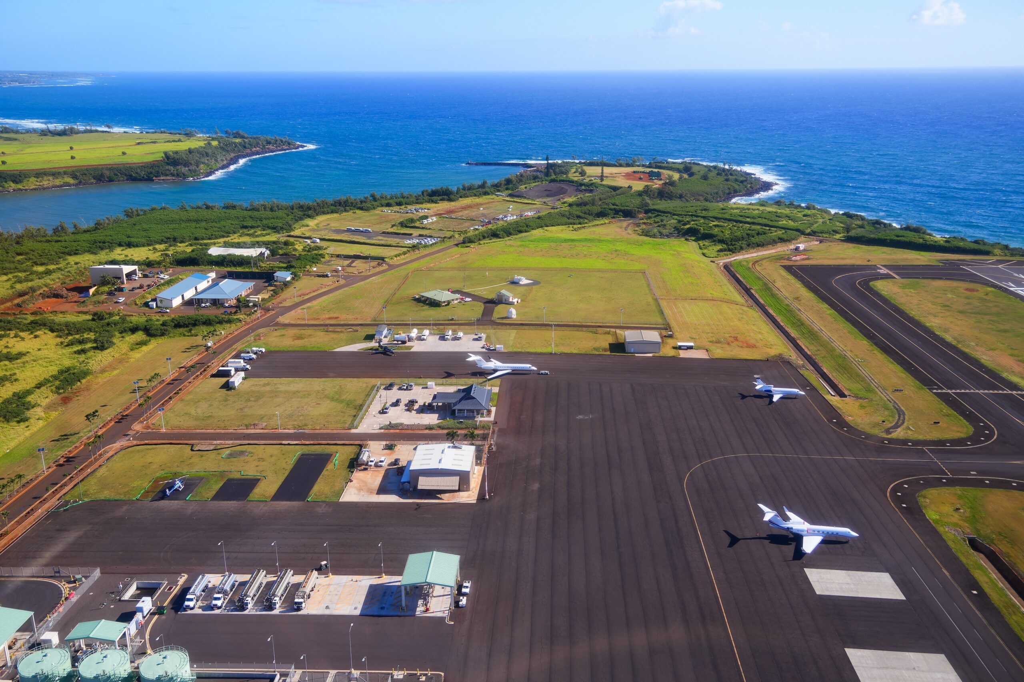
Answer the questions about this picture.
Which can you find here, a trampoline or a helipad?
helipad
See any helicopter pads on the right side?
No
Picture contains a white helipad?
No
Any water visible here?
Yes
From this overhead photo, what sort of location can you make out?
airport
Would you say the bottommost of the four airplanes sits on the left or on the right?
right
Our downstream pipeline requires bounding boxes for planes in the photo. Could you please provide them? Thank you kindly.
[372,340,396,355]
[464,354,537,378]
[757,379,805,400]
[764,505,859,550]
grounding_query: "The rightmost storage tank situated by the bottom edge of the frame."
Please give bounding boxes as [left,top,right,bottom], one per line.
[137,647,195,682]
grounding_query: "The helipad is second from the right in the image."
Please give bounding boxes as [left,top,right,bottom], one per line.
[210,479,260,501]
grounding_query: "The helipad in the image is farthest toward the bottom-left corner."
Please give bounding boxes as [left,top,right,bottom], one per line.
[157,477,204,501]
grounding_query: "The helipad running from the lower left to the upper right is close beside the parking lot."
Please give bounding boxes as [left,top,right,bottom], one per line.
[270,454,333,502]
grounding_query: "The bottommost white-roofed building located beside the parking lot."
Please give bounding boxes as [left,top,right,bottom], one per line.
[403,440,477,491]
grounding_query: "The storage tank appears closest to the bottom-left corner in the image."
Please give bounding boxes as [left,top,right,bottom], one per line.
[14,644,76,682]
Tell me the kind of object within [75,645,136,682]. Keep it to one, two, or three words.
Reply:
storage tank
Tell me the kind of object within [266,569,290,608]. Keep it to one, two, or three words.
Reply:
truck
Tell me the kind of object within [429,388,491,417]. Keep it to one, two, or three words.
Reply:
building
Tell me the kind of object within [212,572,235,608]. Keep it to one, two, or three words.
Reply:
truck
